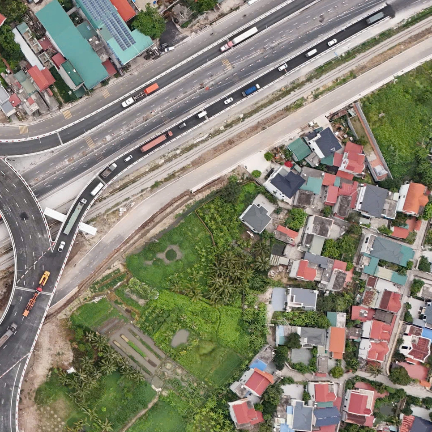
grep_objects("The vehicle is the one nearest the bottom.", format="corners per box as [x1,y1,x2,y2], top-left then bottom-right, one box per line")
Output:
[0,322,17,348]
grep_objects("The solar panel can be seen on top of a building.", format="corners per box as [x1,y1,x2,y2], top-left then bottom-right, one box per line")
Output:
[85,0,135,51]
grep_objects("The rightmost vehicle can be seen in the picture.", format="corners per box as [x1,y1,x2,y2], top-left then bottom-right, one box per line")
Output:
[364,9,387,26]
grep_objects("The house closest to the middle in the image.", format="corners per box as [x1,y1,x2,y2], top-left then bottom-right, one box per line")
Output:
[238,204,273,234]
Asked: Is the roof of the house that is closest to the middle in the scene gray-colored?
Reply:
Yes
